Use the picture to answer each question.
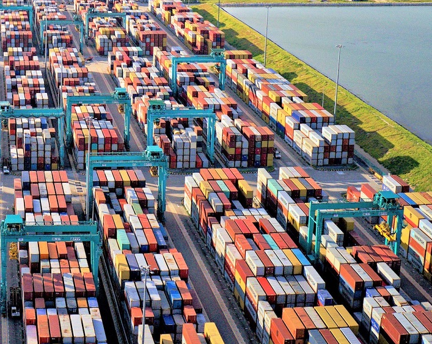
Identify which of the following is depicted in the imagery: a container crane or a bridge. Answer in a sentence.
This aerial view contains a container crane.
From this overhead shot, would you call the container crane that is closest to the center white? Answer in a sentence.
No, from above the container crane that is closest to the center looks blue.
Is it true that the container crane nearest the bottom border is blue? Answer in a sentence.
Yes, blue is the color of the container crane nearest the bottom border.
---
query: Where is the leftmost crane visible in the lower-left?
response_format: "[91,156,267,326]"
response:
[0,217,101,319]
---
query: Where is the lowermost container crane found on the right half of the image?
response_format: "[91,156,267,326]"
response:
[289,184,395,251]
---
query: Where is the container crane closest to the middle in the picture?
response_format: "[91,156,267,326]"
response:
[143,99,216,165]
